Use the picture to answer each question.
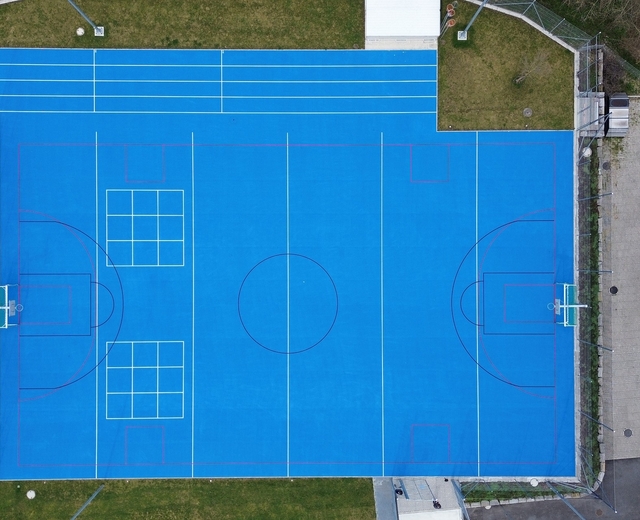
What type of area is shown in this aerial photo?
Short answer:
sports ground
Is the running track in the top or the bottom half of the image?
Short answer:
top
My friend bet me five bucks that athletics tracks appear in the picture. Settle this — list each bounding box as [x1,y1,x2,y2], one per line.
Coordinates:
[0,49,438,115]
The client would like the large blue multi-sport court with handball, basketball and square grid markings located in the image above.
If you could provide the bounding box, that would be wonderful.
[0,115,575,480]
